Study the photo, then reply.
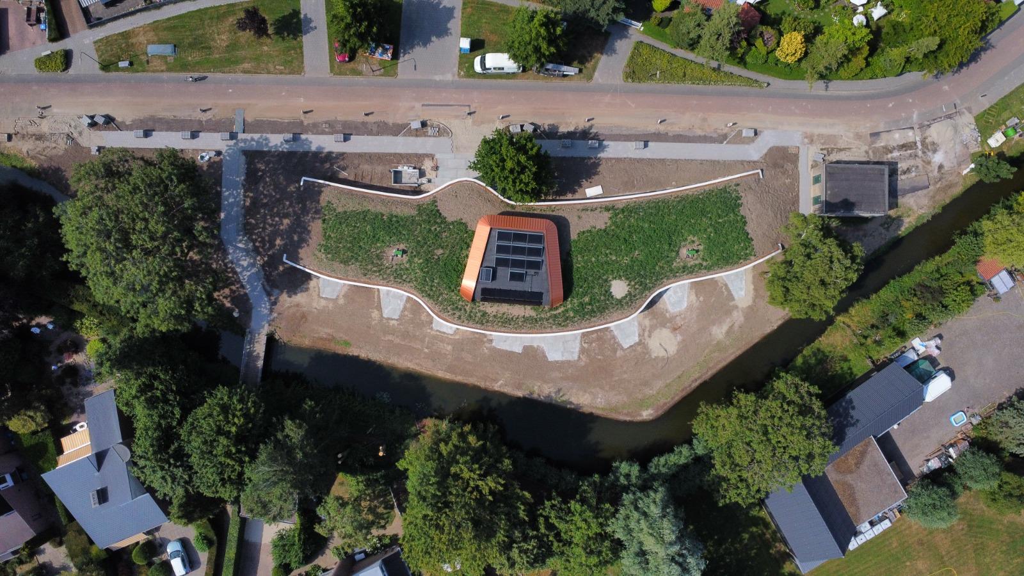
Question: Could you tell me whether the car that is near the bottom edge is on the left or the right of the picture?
left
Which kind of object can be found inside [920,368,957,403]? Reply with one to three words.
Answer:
camper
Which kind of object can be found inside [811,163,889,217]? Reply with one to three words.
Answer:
building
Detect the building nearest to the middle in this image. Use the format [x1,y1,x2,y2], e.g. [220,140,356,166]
[461,216,564,308]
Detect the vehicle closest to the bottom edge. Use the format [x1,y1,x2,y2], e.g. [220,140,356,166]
[168,541,193,576]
